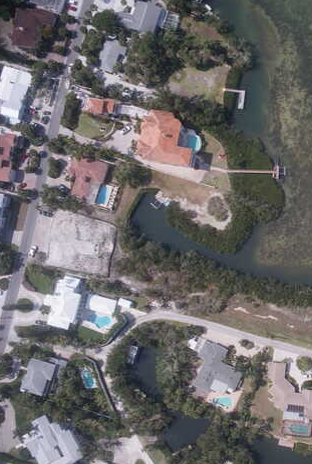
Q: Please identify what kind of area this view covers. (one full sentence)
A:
This image shows a residential area.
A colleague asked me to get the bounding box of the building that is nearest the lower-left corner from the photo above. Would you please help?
[21,415,85,464]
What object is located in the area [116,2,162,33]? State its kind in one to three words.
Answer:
house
